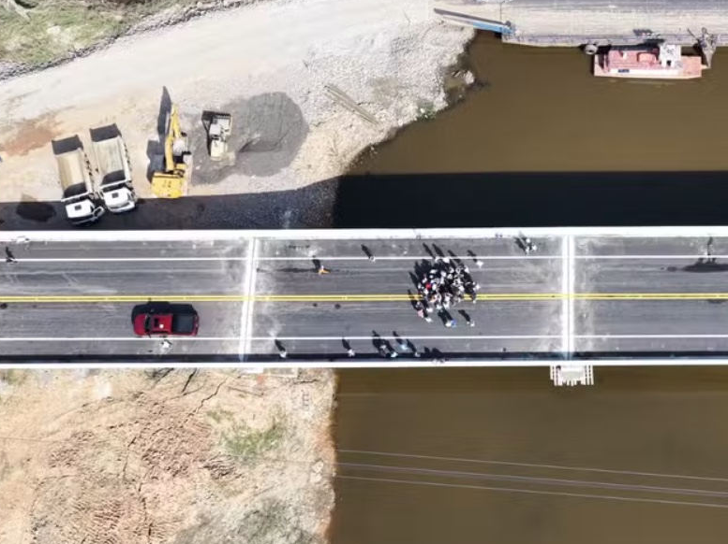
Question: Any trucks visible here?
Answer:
Yes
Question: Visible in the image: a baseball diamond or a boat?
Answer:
boat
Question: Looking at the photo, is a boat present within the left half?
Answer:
No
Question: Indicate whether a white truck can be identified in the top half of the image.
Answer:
Yes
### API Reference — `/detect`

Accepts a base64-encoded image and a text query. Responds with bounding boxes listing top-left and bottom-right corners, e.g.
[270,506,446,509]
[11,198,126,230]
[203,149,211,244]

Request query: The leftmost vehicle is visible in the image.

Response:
[52,136,110,230]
